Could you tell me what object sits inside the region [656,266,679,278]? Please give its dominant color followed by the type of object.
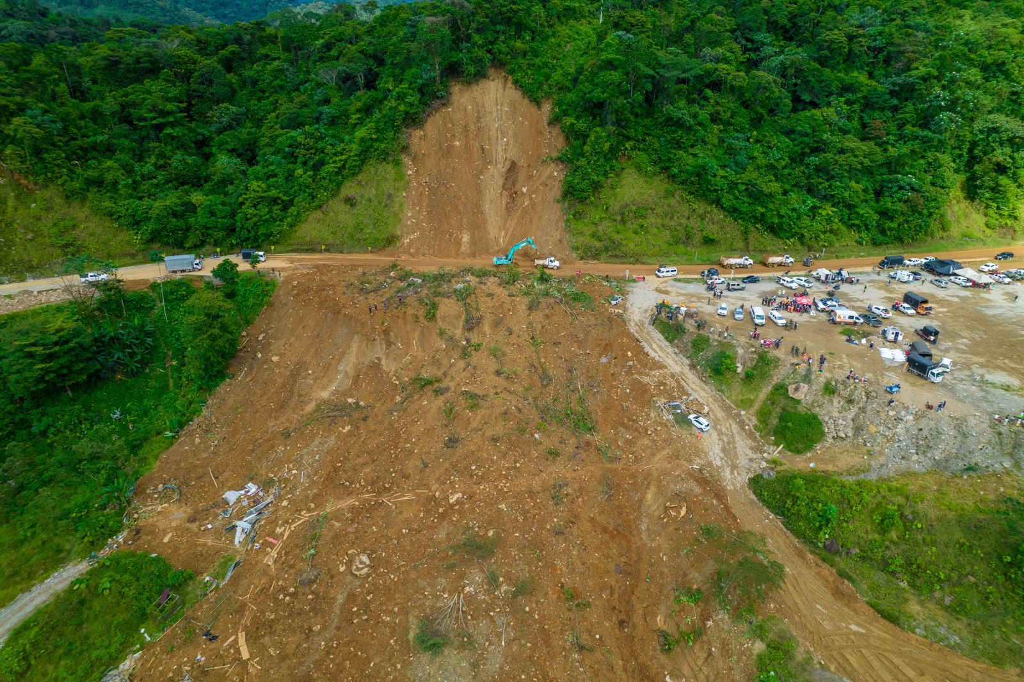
white vehicle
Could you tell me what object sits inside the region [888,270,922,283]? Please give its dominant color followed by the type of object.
white vehicle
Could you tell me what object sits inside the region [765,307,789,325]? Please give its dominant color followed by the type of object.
white car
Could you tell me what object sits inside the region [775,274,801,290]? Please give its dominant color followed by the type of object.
white car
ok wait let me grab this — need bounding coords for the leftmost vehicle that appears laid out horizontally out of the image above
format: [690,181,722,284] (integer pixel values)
[77,270,109,283]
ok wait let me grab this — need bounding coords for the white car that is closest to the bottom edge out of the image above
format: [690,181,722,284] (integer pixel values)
[686,415,711,431]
